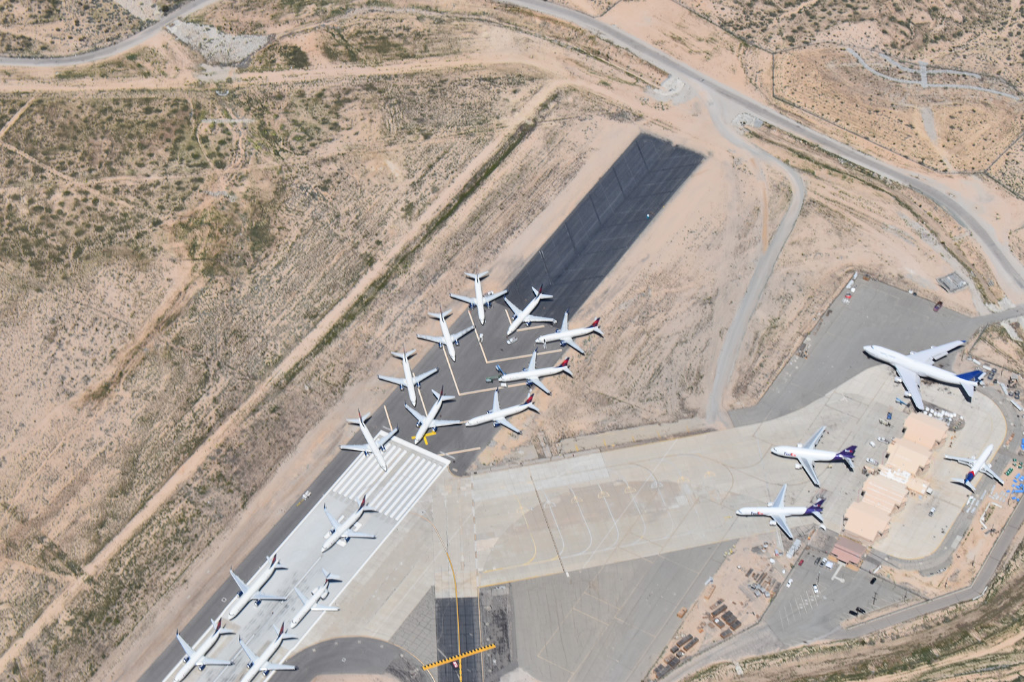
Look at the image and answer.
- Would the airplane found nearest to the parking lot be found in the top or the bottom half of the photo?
bottom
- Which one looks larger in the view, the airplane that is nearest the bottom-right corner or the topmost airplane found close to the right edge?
the topmost airplane found close to the right edge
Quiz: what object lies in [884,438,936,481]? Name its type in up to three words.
hangar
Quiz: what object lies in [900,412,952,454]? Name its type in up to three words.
hangar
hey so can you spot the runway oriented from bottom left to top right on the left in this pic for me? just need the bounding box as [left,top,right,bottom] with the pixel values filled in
[163,429,452,682]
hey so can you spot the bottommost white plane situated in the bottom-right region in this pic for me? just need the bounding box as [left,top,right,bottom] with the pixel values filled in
[736,485,823,538]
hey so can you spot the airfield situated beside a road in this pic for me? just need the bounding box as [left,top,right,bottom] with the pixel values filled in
[139,133,1024,682]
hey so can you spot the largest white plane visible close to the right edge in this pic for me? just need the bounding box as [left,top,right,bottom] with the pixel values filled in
[864,337,983,410]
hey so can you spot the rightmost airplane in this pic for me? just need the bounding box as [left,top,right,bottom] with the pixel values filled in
[948,447,1003,485]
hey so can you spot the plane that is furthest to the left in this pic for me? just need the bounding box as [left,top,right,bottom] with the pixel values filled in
[173,619,234,682]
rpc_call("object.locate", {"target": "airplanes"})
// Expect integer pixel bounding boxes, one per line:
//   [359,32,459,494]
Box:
[504,285,556,335]
[229,556,287,620]
[448,272,509,325]
[376,343,438,406]
[736,485,823,538]
[771,424,857,484]
[536,307,602,352]
[466,386,538,432]
[948,447,1003,485]
[498,346,571,393]
[864,337,983,410]
[416,304,475,362]
[322,497,378,553]
[173,619,234,682]
[240,624,299,682]
[291,569,339,629]
[404,386,462,444]
[339,410,397,471]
